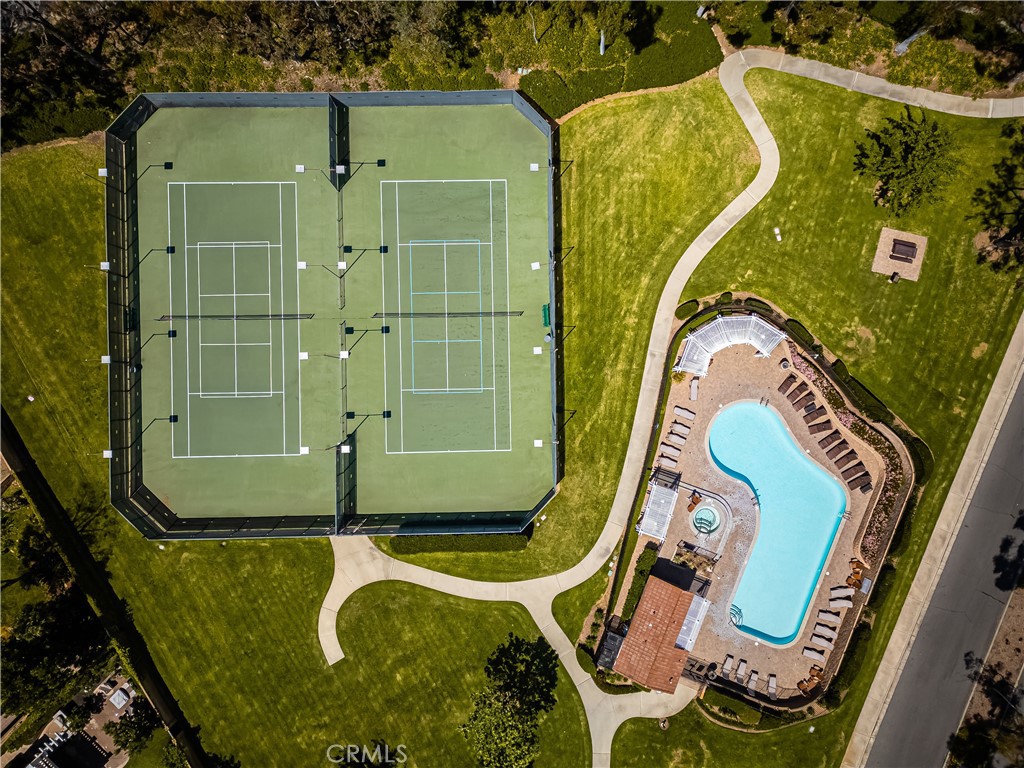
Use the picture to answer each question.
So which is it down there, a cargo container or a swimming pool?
swimming pool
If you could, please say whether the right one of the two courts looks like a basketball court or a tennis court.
tennis court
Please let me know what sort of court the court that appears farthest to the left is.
tennis court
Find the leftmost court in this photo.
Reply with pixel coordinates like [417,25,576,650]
[124,105,344,533]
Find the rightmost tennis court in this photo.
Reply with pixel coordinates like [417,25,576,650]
[336,104,554,529]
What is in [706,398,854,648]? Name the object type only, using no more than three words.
swimming pool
